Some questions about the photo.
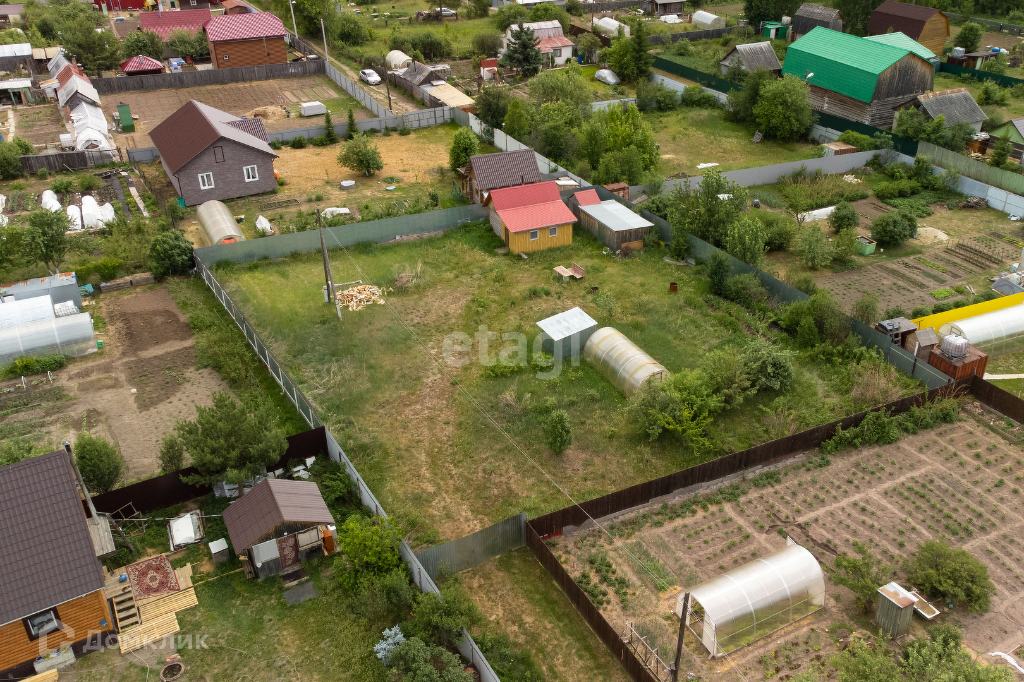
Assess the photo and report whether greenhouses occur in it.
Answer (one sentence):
Yes, the photo shows a greenhouse.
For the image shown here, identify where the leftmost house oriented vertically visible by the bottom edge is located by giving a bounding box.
[0,440,111,676]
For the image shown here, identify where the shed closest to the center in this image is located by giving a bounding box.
[530,307,597,362]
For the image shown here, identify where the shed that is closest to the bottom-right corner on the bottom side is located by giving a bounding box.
[871,577,918,635]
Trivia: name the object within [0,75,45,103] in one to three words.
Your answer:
shed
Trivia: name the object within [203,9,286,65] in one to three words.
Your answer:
house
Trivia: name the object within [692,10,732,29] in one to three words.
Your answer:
greenhouse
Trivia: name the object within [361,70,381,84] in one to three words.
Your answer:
car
